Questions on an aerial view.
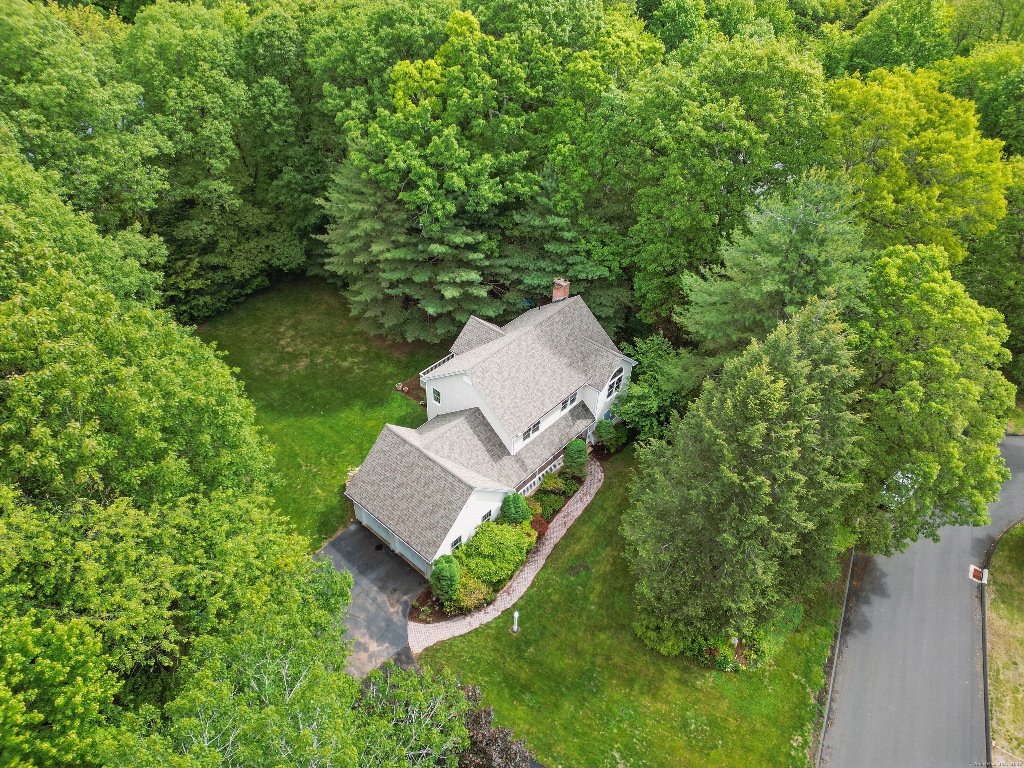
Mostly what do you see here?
trees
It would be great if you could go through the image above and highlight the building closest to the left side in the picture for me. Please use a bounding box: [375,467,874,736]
[344,277,639,582]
